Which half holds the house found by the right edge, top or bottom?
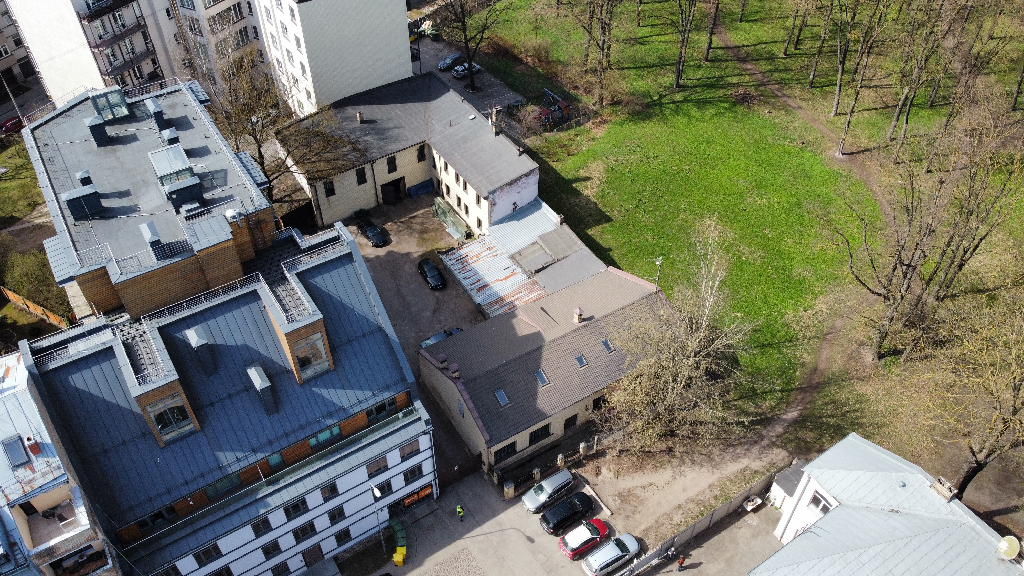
bottom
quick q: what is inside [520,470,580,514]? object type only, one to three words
car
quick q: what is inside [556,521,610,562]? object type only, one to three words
car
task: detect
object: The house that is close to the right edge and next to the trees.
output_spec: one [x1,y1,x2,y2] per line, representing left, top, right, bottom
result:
[752,428,1024,576]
